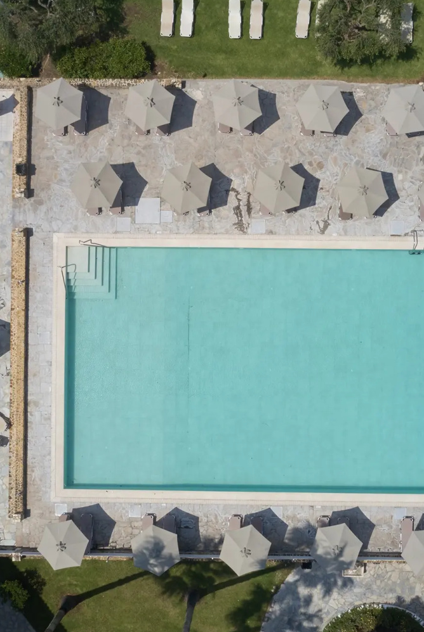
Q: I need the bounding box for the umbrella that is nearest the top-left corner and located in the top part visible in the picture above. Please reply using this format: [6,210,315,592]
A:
[35,79,85,133]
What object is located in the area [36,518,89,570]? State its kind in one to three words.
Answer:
umbrella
